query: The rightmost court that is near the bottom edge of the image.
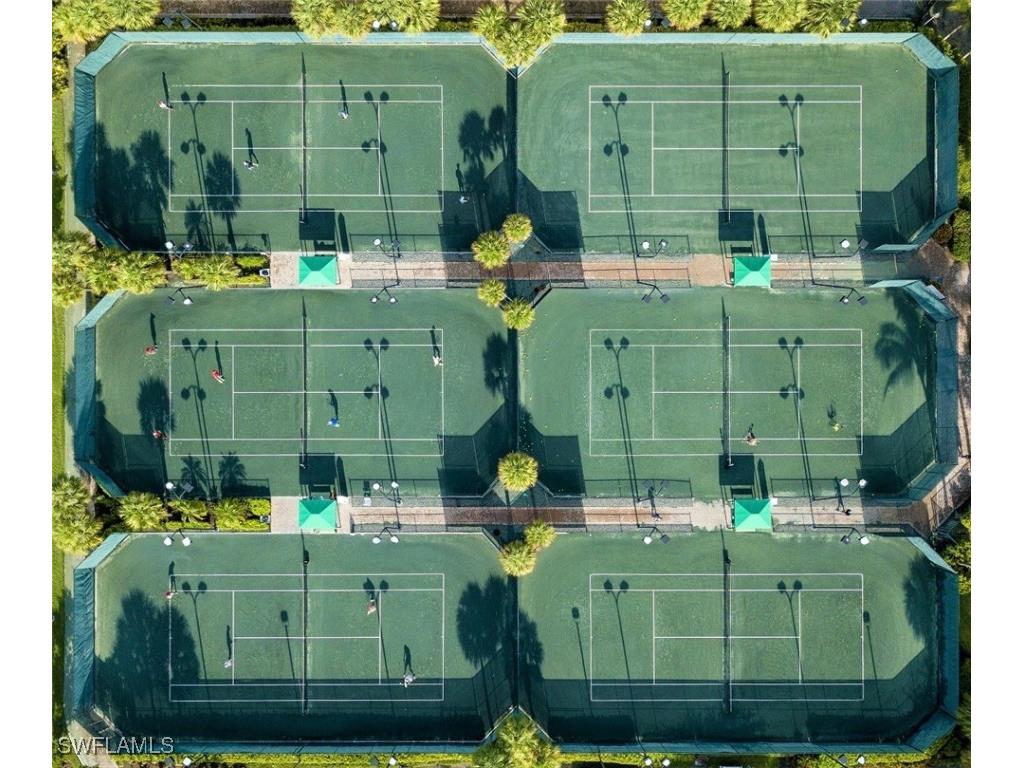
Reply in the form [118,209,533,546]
[516,533,936,741]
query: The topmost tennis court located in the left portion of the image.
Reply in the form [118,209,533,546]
[95,44,516,252]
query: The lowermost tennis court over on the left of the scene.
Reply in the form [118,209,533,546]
[95,533,516,741]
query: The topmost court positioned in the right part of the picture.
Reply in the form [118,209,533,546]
[516,44,936,252]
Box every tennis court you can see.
[95,288,516,497]
[95,533,516,741]
[516,44,936,252]
[516,533,936,741]
[95,44,516,252]
[516,288,936,497]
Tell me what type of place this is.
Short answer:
sports ground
